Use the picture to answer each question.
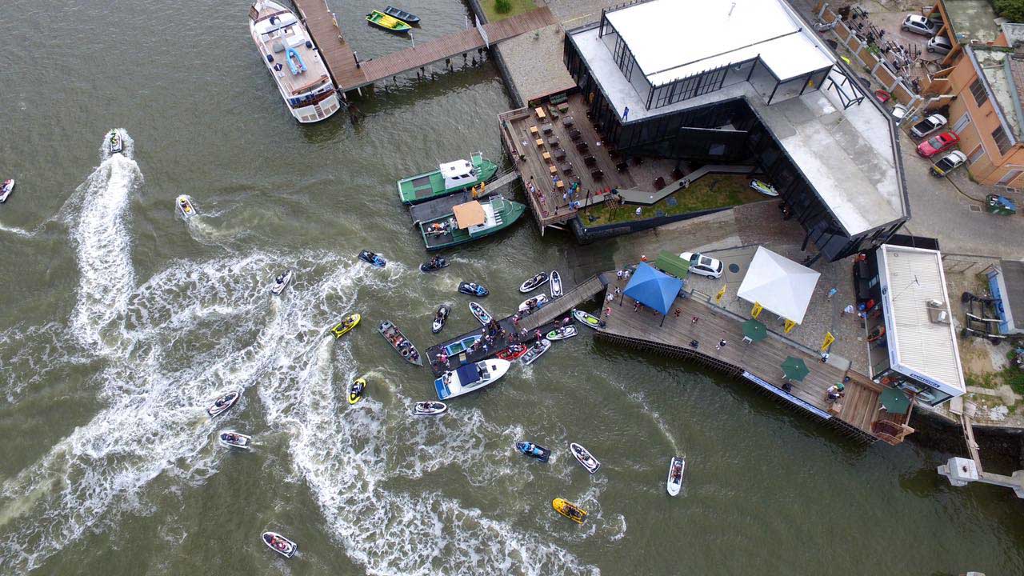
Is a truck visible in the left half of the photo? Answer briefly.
No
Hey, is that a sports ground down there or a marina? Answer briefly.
marina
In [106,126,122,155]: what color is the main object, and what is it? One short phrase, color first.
white boat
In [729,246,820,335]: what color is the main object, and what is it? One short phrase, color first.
white gazebo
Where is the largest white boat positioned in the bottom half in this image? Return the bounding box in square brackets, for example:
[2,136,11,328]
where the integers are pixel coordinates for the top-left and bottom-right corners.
[434,356,511,403]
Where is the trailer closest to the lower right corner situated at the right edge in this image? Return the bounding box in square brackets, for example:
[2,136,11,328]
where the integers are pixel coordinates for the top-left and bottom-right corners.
[964,287,1013,342]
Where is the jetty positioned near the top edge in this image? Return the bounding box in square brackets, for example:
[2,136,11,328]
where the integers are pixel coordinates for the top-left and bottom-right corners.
[292,0,558,98]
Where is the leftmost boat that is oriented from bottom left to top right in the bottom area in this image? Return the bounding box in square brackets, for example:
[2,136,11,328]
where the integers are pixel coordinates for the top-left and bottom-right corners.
[206,391,241,421]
